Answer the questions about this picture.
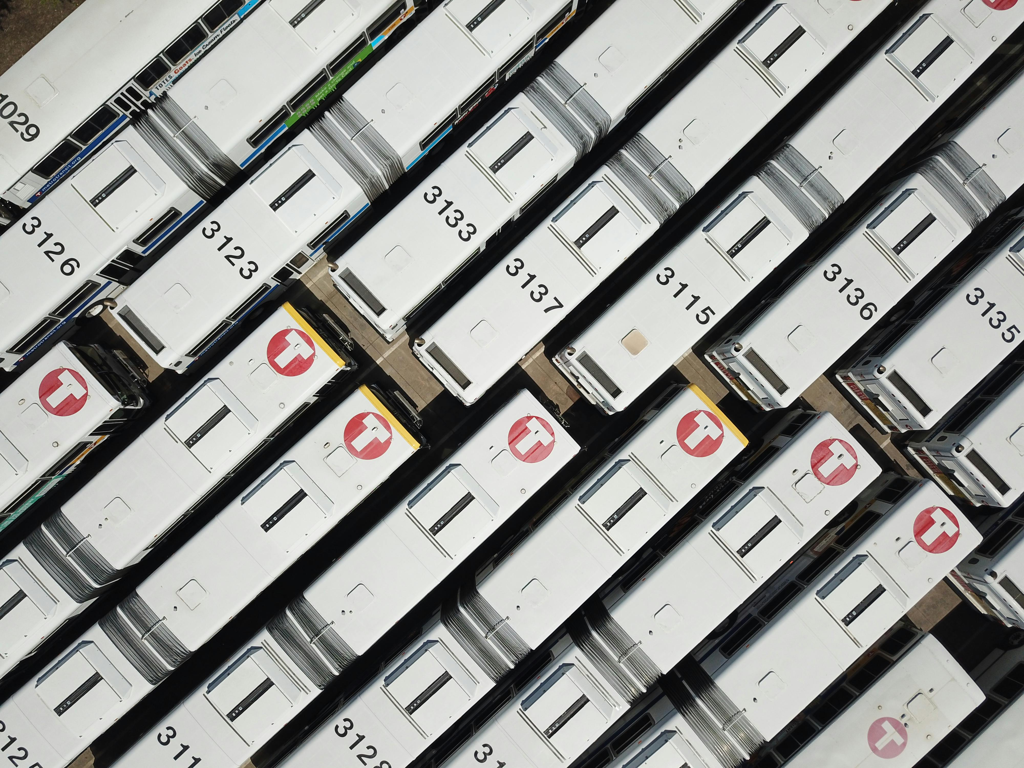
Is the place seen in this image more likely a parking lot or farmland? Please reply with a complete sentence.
The area seen from above is a parking lot.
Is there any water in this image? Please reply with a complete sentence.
No, the scene doesn't show any water.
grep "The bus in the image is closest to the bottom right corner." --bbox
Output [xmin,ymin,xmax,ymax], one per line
[907,627,1024,768]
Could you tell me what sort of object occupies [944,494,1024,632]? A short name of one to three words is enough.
bus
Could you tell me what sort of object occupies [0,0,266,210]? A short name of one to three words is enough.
bus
